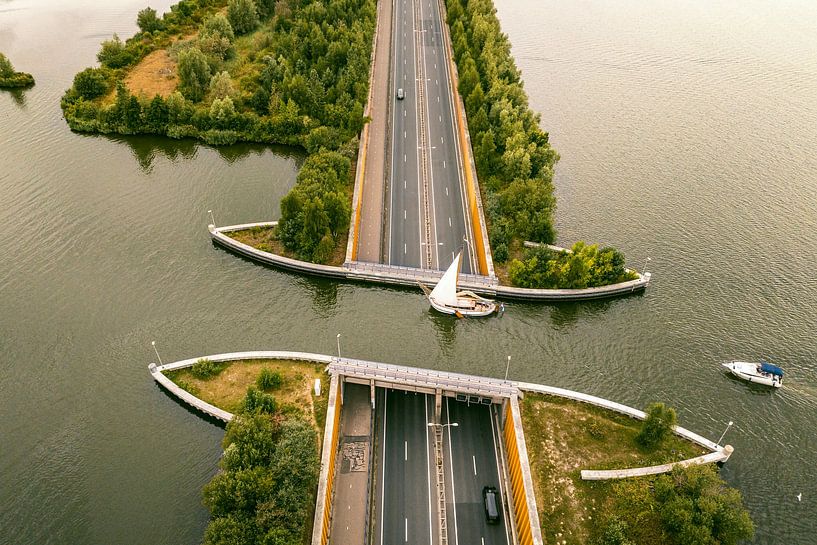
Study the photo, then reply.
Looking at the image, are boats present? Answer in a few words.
Yes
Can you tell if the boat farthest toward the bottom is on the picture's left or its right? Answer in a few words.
right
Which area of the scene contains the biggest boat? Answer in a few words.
center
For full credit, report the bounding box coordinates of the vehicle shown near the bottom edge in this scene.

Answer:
[483,488,501,525]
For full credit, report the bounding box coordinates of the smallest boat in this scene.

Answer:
[723,359,783,389]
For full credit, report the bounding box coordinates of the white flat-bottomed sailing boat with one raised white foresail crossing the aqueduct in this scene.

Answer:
[417,247,506,318]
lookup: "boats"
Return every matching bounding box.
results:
[417,247,506,318]
[723,359,783,389]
